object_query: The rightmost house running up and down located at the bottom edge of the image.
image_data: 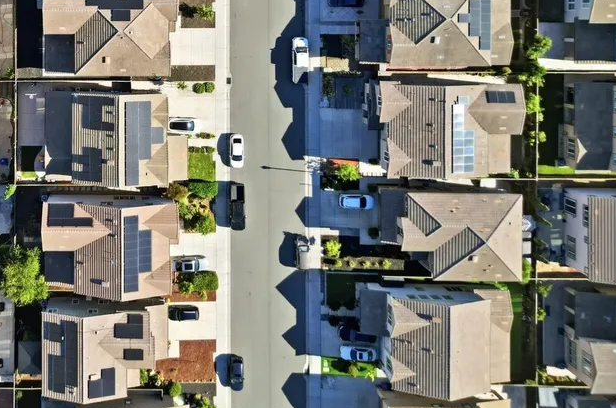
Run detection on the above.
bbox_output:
[566,283,616,394]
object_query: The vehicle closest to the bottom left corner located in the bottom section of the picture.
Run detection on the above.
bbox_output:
[168,305,199,322]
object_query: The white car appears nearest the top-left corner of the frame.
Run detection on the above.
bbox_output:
[171,117,207,134]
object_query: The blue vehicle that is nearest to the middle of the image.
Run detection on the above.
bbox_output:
[338,193,375,211]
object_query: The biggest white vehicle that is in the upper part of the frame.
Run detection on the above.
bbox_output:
[291,37,311,84]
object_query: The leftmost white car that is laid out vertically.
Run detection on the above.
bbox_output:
[229,133,245,167]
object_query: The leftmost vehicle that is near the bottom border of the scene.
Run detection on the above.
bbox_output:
[229,352,246,389]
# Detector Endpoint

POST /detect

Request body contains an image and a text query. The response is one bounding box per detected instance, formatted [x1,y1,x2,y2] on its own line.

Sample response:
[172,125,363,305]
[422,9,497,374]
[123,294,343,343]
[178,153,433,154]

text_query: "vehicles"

[328,0,365,8]
[168,305,199,322]
[340,344,377,363]
[228,183,248,229]
[337,325,377,344]
[174,256,209,273]
[294,234,312,270]
[229,133,245,167]
[171,117,207,134]
[229,352,246,389]
[291,37,311,84]
[338,193,375,211]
